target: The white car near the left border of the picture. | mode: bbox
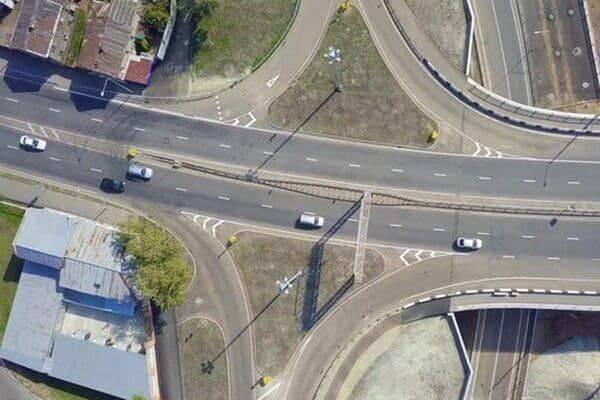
[20,136,47,151]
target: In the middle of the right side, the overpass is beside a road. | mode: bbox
[449,79,600,315]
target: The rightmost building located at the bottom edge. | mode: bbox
[47,330,157,400]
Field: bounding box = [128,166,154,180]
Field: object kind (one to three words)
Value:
vehicle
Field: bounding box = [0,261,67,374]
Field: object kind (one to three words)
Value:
building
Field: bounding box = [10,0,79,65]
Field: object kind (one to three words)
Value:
house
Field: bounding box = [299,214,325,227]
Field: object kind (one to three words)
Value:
vehicle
